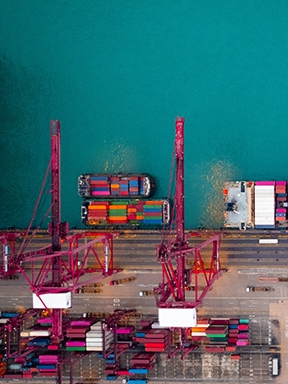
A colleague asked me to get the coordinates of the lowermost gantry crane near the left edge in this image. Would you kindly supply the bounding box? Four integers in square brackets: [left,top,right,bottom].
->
[5,311,45,359]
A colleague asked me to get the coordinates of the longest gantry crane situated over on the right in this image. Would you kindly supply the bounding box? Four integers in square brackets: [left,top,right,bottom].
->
[153,115,229,343]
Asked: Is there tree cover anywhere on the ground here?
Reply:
No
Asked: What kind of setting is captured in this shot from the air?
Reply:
port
